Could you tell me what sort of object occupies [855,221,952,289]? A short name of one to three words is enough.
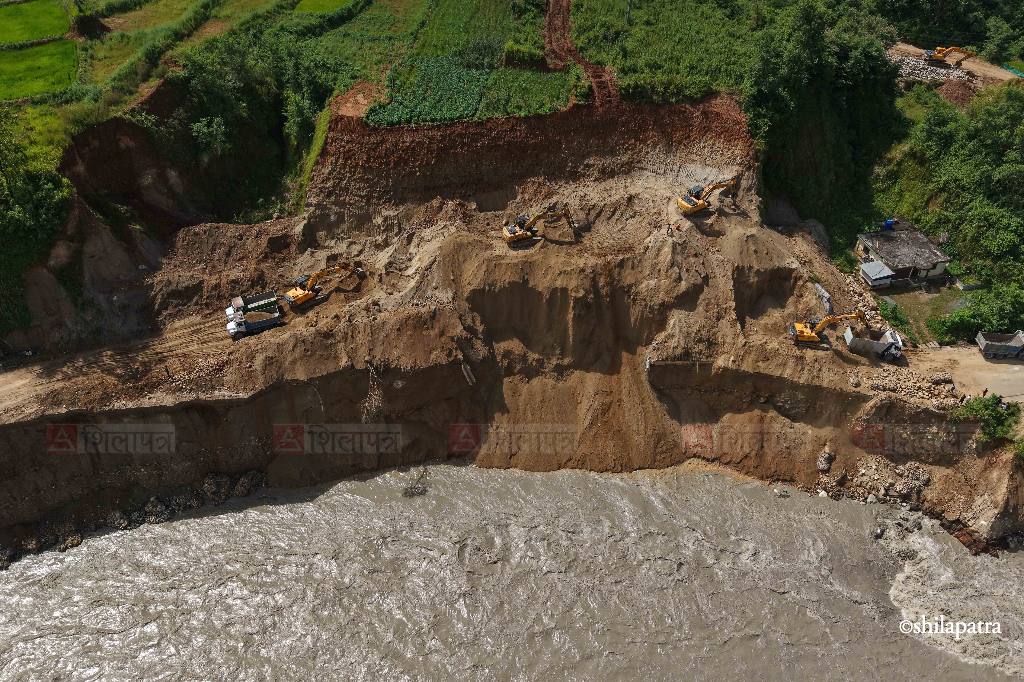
house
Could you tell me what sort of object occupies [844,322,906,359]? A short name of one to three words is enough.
truck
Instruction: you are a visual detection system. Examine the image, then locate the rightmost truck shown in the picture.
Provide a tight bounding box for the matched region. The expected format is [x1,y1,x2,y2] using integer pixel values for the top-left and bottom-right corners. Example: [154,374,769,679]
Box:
[978,329,1024,360]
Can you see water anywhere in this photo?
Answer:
Yes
